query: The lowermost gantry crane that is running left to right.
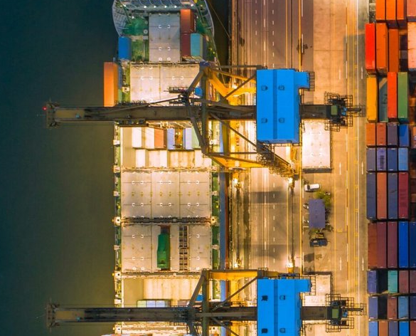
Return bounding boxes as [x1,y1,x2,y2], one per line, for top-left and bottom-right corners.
[46,244,369,336]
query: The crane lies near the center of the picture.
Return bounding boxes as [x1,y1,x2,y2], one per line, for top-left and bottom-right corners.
[43,60,372,205]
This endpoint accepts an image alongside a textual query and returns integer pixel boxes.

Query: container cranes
[46,244,369,336]
[43,60,372,205]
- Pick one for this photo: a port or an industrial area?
port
